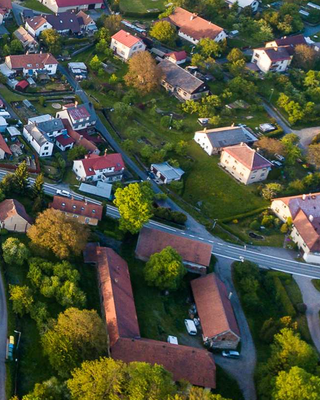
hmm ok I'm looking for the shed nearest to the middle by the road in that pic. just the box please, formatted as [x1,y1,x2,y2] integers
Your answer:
[151,161,189,185]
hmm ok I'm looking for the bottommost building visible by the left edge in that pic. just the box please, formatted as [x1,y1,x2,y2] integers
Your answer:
[0,202,29,227]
